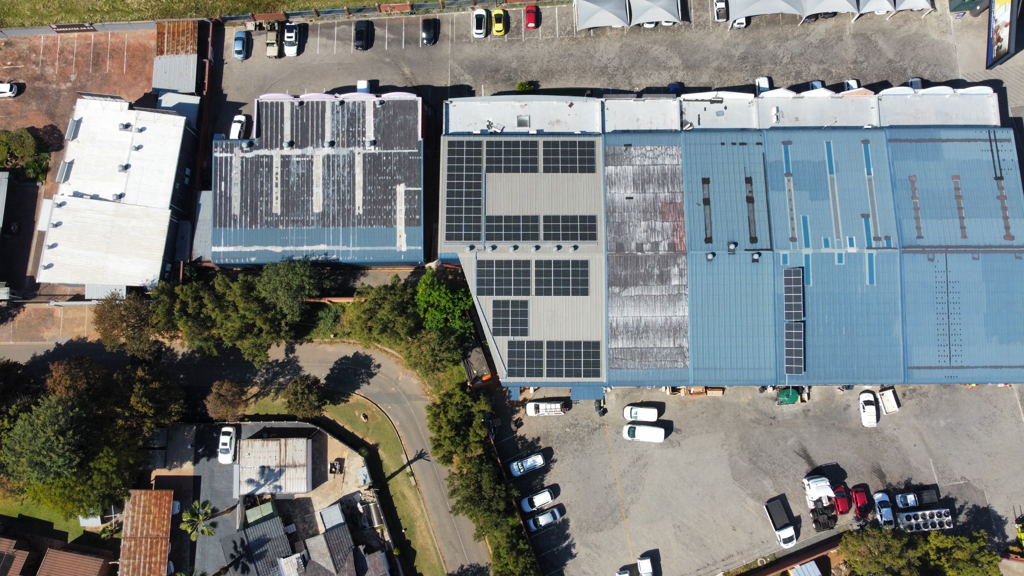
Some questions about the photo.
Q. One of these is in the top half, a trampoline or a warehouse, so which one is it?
warehouse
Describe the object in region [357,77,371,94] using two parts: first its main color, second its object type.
white vehicle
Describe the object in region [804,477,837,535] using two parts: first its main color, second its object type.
white truck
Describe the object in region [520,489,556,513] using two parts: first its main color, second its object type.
white car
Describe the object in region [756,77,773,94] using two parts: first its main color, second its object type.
white car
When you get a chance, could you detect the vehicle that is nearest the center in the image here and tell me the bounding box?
[525,401,565,418]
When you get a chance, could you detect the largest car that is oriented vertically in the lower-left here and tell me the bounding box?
[217,426,238,463]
